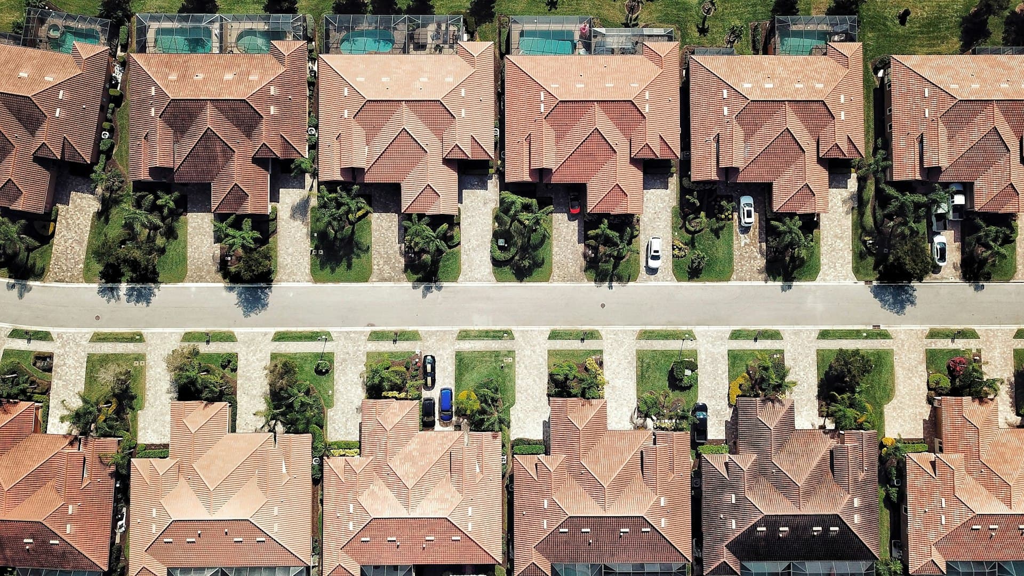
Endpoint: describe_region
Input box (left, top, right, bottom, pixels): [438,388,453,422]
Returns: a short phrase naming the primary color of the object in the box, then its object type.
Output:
blue vehicle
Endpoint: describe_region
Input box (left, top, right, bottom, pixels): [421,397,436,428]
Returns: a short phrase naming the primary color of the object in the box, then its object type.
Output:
black car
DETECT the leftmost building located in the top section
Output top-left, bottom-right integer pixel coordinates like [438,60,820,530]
[0,41,116,215]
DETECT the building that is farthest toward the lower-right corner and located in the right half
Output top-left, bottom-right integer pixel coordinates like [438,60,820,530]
[899,396,1024,575]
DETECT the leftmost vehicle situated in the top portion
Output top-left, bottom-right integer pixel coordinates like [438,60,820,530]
[567,188,582,217]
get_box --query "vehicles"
[947,183,967,220]
[932,196,950,233]
[930,235,948,267]
[693,401,709,442]
[421,354,436,388]
[567,188,582,217]
[647,236,662,268]
[739,195,755,227]
[421,397,436,428]
[438,388,453,422]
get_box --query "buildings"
[128,40,308,215]
[700,396,881,576]
[129,400,313,576]
[513,397,692,576]
[505,41,680,215]
[318,41,495,215]
[0,41,116,215]
[0,398,123,571]
[884,49,1024,213]
[323,398,503,576]
[899,396,1024,575]
[689,42,865,214]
